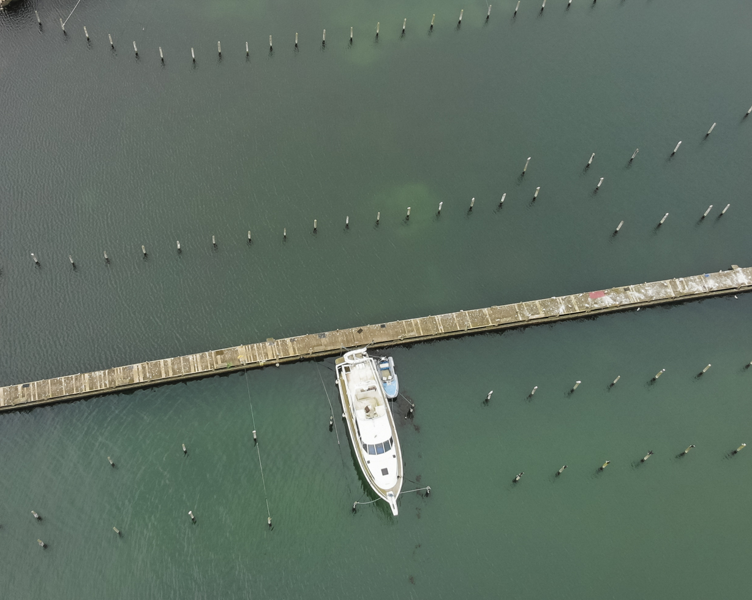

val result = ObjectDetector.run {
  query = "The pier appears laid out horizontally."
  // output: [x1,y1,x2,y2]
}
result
[0,266,752,415]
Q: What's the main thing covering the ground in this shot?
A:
water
